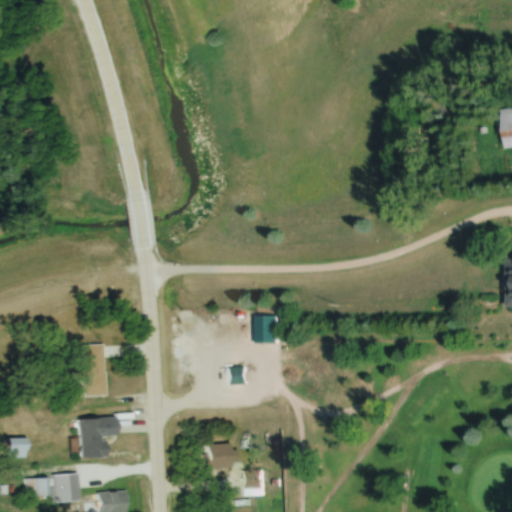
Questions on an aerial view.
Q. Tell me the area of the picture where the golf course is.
bottom right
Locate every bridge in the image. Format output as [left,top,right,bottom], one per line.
[126,189,156,250]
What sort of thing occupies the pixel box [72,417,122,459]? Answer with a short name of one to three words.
house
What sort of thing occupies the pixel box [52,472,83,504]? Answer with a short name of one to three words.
house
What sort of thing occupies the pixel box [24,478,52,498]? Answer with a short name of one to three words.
shed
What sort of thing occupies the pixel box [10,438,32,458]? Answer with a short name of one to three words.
building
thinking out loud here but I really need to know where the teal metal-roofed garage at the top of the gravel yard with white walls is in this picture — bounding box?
[251,314,277,342]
